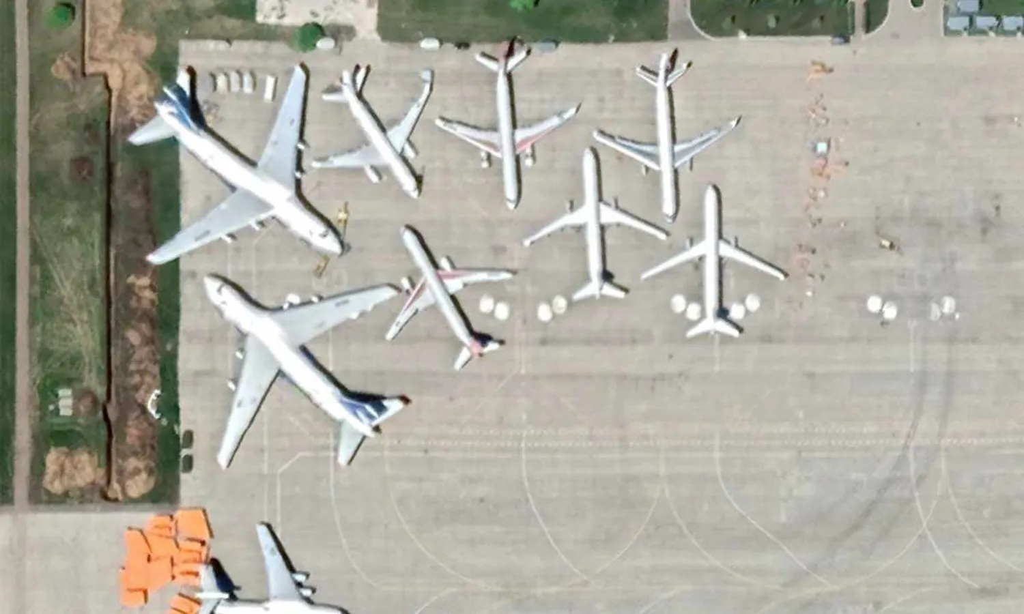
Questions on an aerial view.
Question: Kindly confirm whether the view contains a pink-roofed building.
No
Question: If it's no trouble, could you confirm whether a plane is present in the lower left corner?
Yes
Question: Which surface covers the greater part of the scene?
paved ground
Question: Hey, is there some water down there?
No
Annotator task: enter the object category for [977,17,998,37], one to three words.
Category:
building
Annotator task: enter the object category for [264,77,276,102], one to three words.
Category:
vehicle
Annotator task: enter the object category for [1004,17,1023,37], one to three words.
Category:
building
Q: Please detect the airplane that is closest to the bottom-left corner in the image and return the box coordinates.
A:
[195,525,347,614]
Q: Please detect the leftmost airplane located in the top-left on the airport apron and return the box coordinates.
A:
[123,70,343,259]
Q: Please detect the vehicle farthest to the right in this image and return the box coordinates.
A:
[874,235,901,253]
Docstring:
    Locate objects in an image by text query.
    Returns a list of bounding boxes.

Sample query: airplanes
[593,58,738,223]
[386,227,515,371]
[203,279,411,470]
[434,45,579,209]
[195,525,347,614]
[123,70,343,259]
[641,184,786,336]
[522,147,668,298]
[303,68,437,198]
